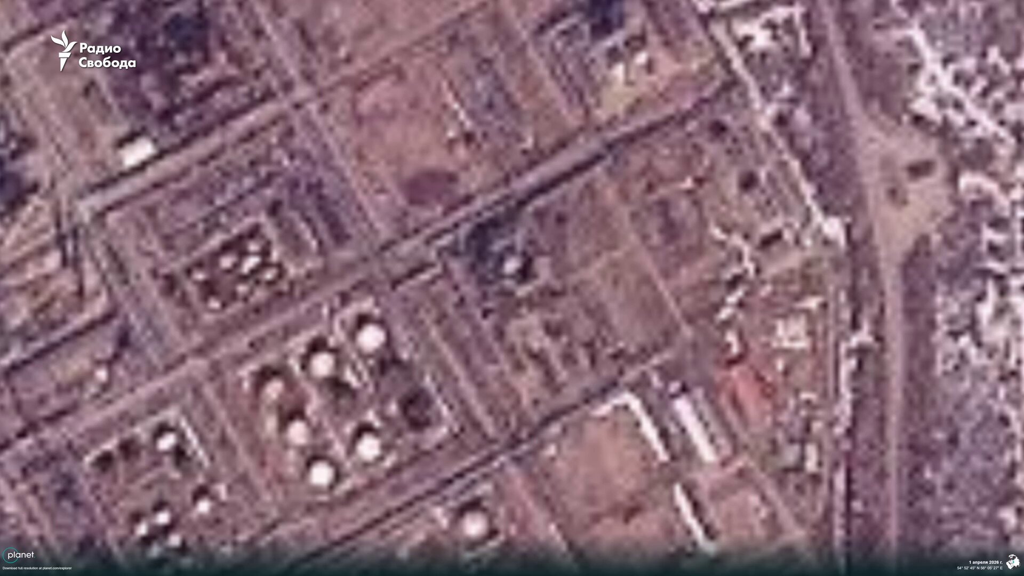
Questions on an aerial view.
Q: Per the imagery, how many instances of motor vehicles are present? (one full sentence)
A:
No motor vehicles are visible.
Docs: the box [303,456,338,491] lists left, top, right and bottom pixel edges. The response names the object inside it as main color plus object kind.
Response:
white storage tank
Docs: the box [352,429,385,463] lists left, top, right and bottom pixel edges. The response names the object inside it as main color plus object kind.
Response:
white storage tank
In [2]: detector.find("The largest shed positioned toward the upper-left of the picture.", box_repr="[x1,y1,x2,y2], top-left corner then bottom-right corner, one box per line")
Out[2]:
[120,138,154,166]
